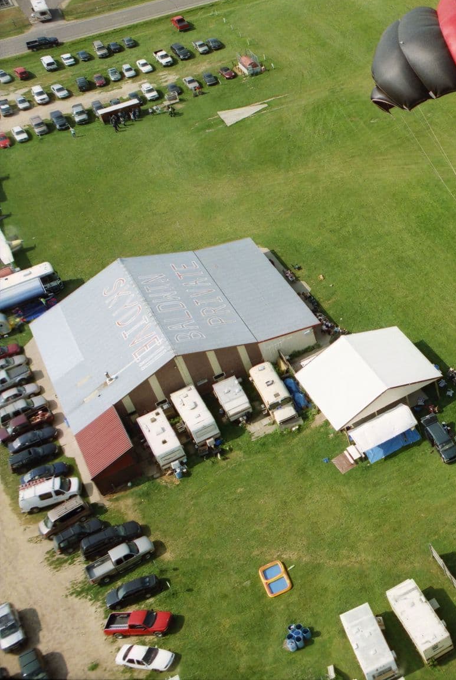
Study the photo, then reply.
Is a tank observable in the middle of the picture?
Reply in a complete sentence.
No, I can find no tank in the middle of the picture.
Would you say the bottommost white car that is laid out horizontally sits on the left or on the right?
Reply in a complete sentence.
The bottommost white car that is laid out horizontally is on the left side of the image.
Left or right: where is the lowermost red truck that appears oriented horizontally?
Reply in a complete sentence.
You can find the lowermost red truck that appears oriented horizontally on the left side of the picture.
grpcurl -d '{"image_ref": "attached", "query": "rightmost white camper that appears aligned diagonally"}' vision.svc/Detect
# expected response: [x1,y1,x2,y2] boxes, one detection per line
[387,580,453,666]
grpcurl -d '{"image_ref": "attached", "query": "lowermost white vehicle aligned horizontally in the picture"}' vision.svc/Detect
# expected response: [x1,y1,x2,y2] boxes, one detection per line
[111,643,181,675]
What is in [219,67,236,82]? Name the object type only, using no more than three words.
car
